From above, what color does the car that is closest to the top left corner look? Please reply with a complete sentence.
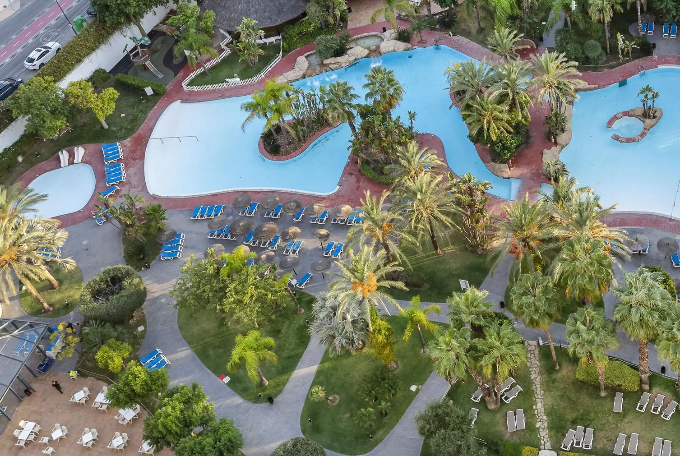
The color of the car that is closest to the top left corner is white.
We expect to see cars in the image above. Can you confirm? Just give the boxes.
[79,0,105,20]
[0,79,24,102]
[22,43,62,68]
